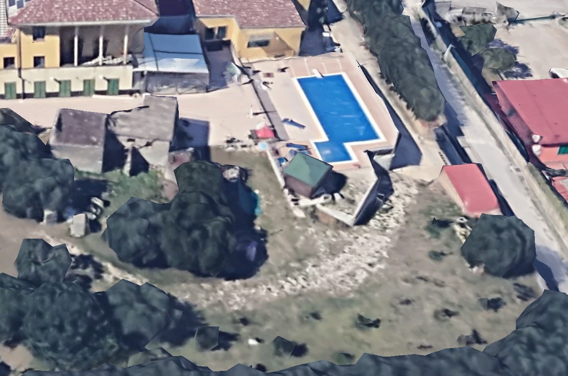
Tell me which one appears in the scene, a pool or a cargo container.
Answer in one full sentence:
I can see a pool in this picture.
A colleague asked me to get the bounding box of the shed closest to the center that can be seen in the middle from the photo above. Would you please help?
[284,153,333,200]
